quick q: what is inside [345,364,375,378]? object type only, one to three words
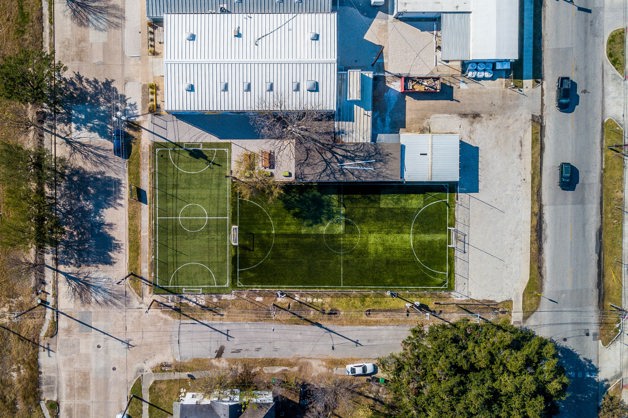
car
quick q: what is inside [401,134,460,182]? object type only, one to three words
shed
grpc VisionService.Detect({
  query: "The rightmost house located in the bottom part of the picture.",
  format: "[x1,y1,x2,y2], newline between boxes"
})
[246,386,288,418]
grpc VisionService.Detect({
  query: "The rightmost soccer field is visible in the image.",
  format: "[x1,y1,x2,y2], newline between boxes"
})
[231,180,456,293]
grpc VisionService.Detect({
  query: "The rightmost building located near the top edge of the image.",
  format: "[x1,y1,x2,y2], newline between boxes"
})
[389,0,519,64]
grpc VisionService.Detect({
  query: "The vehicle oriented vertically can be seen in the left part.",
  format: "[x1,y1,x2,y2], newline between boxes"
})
[112,129,126,160]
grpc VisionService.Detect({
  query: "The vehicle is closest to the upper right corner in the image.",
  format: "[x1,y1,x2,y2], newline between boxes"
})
[555,77,572,111]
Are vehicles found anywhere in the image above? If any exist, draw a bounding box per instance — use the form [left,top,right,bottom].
[555,77,572,111]
[112,129,126,160]
[557,164,573,189]
[345,364,375,378]
[370,0,383,6]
